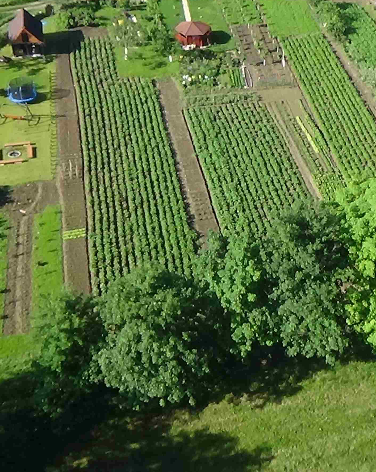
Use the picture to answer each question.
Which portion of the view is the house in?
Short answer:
top left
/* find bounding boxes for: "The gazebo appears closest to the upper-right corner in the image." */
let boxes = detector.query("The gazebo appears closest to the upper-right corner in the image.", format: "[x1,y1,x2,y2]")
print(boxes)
[174,20,212,52]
